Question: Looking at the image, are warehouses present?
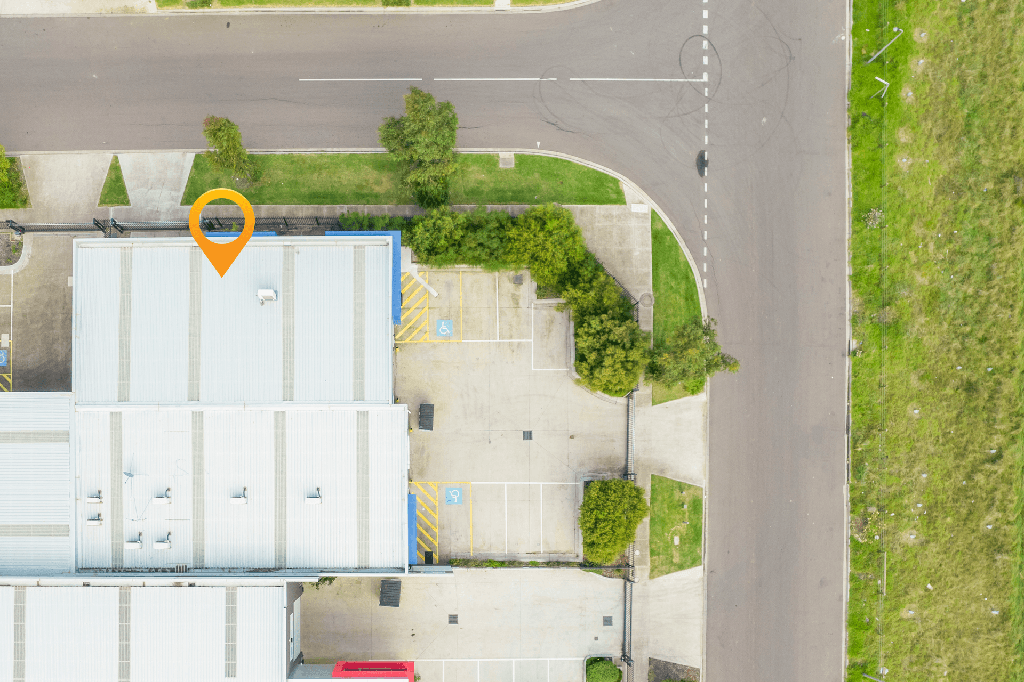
Yes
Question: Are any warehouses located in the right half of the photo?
No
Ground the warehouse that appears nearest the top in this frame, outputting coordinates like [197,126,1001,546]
[73,231,403,406]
